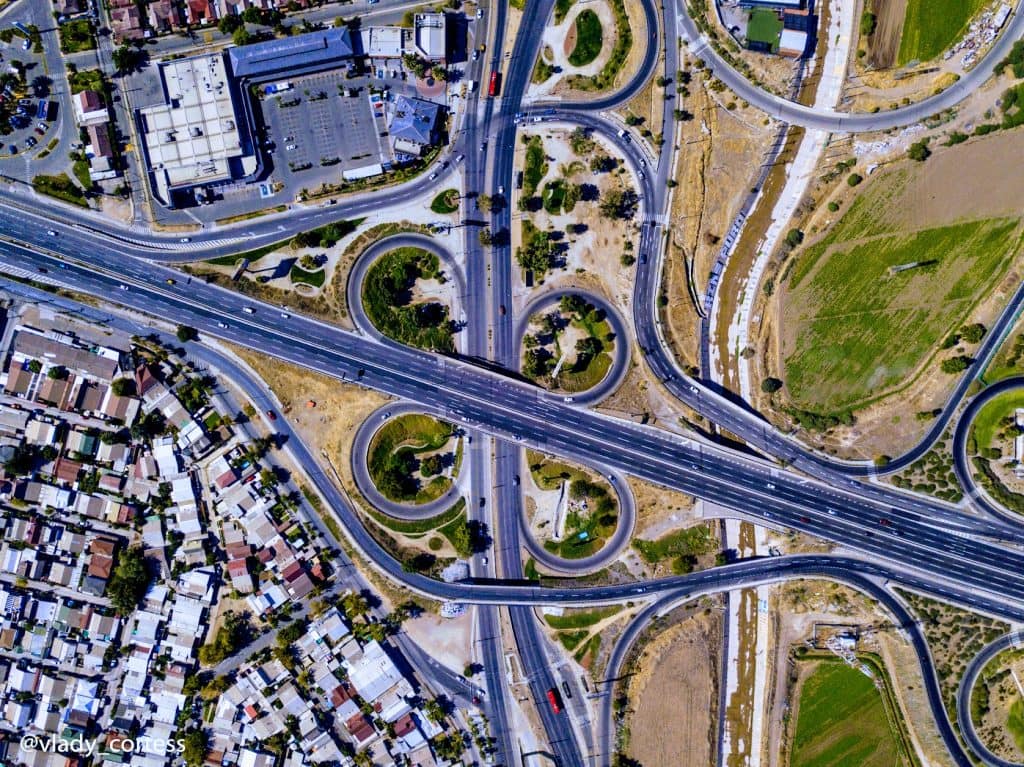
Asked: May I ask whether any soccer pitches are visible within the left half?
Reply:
No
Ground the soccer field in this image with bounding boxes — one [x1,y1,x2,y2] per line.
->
[746,9,782,52]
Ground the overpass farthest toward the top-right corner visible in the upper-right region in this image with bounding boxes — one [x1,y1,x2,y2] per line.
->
[674,0,1024,137]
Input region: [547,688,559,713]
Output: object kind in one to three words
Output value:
vehicle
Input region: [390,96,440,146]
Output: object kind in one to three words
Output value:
building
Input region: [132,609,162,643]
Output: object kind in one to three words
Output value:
house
